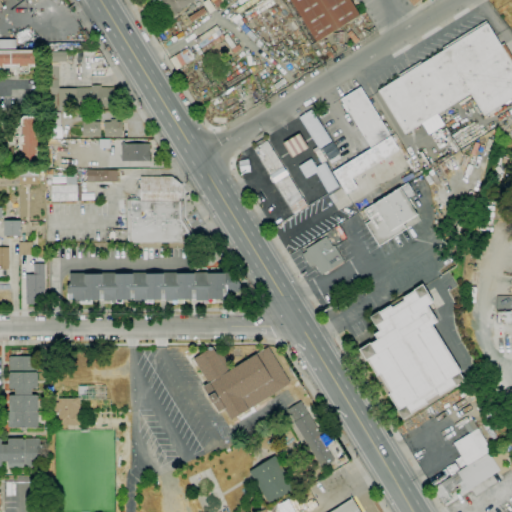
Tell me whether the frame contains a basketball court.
No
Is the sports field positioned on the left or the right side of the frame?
left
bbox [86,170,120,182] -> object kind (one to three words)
house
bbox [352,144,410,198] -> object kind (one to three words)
building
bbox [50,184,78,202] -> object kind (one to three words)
shed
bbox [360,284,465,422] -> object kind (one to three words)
building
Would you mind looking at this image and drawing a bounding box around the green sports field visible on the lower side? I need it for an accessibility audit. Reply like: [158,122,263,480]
[54,430,116,512]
